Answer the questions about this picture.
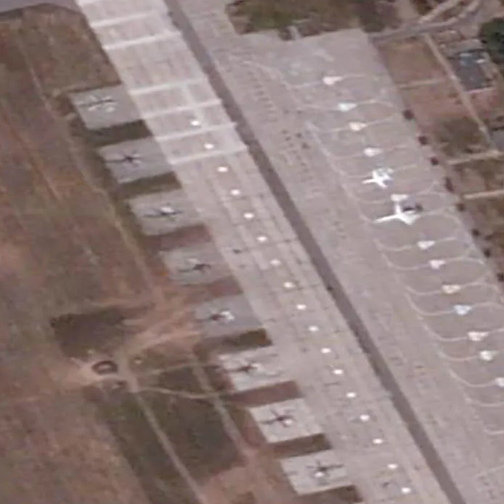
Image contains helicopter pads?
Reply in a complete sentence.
Yes, looking at the shot, I can spot a helicopter pad.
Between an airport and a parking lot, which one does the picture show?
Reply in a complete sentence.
What you see here is an airport.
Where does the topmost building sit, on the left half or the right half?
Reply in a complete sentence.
It is on the right.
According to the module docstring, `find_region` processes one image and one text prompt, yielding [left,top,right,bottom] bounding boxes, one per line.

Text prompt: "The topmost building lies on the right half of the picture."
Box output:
[450,49,492,94]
